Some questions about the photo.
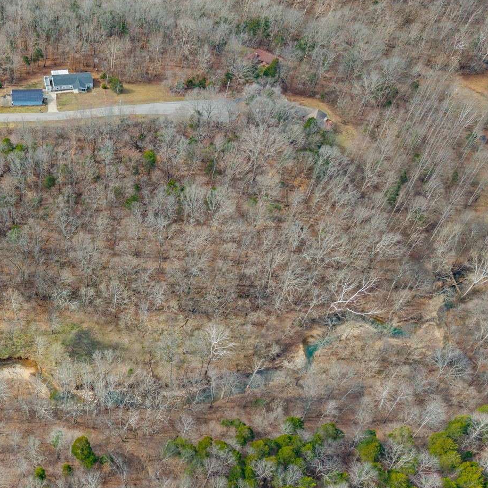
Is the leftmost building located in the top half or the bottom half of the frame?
top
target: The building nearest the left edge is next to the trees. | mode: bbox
[13,88,44,111]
